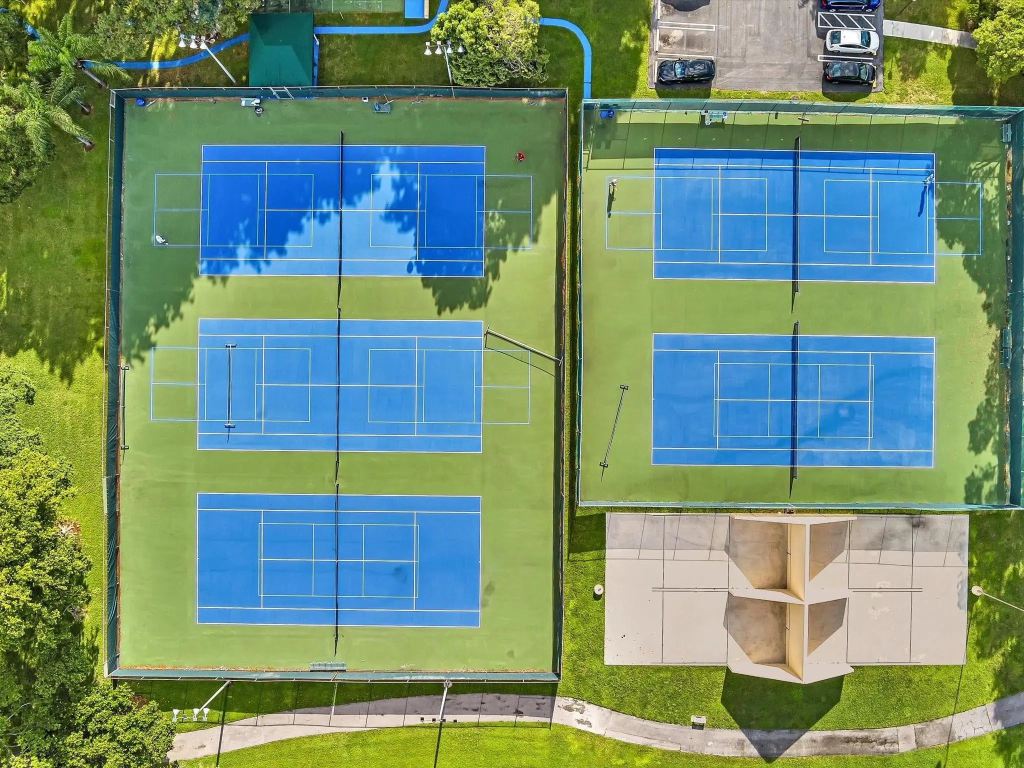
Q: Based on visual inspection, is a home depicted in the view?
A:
No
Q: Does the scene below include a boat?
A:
No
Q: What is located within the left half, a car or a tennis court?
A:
tennis court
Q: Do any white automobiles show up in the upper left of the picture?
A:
No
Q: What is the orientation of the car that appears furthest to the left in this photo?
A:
from side to side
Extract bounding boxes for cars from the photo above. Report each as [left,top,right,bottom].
[659,56,717,86]
[823,0,881,13]
[828,59,878,86]
[828,27,882,55]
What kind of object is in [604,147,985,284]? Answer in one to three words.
tennis court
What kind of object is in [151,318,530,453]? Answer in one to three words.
tennis court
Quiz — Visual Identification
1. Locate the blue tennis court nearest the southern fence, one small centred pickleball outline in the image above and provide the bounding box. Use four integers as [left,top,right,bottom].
[197,493,481,627]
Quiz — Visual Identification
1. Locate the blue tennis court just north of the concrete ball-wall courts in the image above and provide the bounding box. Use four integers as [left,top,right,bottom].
[650,333,937,468]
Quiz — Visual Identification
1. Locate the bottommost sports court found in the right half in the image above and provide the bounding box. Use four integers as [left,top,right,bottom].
[604,513,969,684]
